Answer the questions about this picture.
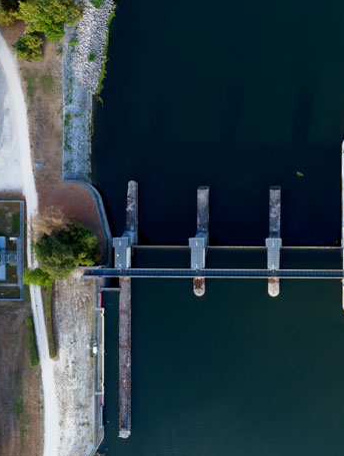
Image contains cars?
No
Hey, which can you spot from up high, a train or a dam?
dam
